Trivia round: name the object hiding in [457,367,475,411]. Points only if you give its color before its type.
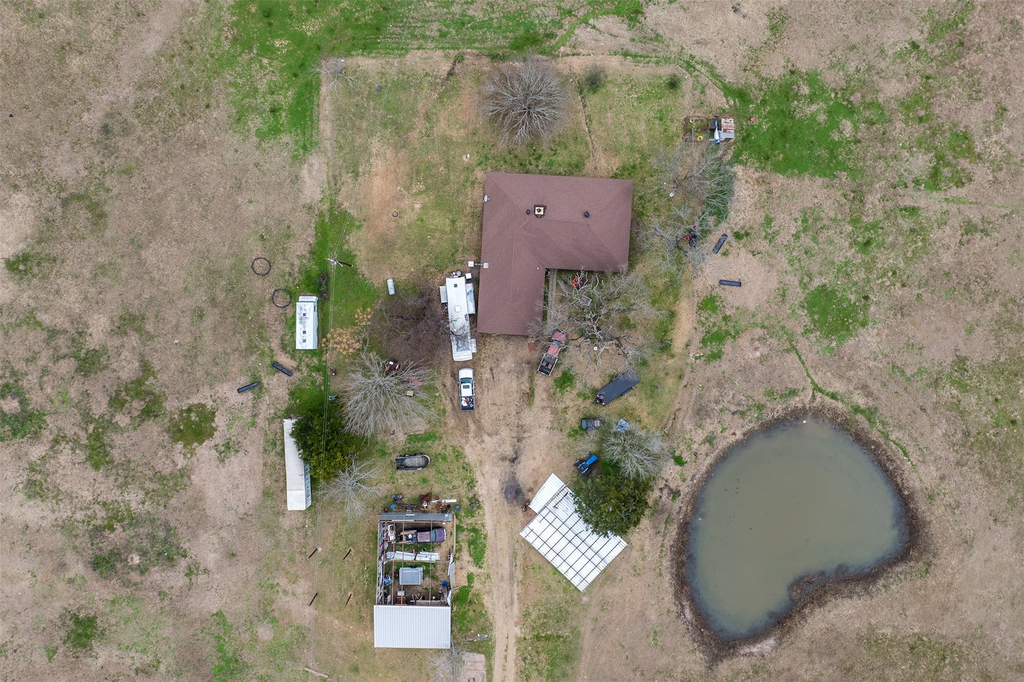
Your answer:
white vehicle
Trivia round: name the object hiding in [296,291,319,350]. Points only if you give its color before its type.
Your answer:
white trailer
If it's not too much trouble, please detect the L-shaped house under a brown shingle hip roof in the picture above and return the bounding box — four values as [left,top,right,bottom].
[474,172,633,336]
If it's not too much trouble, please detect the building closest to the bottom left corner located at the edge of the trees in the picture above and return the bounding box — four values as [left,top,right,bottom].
[374,511,460,649]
